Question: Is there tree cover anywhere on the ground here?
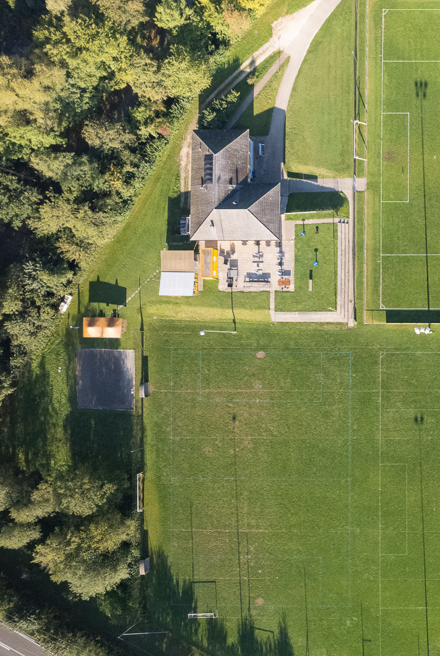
Yes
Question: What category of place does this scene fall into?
sports ground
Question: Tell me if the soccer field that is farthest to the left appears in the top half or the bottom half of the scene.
bottom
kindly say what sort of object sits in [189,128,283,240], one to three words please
building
